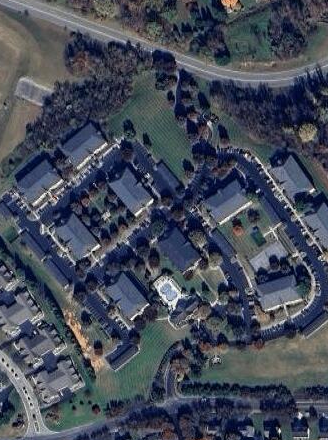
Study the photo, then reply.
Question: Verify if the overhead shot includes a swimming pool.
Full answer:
Yes, the photo shows a swimming pool.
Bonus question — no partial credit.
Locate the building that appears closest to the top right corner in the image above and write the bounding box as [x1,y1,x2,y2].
[271,154,316,204]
